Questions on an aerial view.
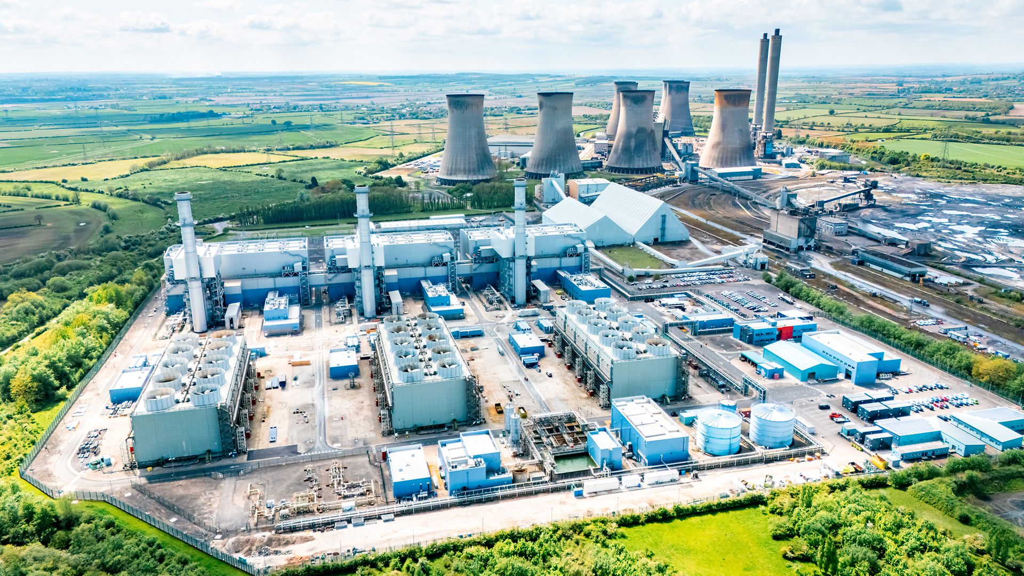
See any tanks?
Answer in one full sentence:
Yes, the picture does show a tank.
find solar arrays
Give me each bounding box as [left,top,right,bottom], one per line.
[885,417,934,433]
[975,402,1024,419]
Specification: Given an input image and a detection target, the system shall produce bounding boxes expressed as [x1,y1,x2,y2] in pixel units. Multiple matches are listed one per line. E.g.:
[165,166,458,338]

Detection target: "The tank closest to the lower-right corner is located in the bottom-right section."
[750,400,800,449]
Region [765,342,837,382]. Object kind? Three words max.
shed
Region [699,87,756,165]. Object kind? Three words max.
cooling tower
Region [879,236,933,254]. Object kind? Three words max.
building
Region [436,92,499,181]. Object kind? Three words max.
cooling tower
